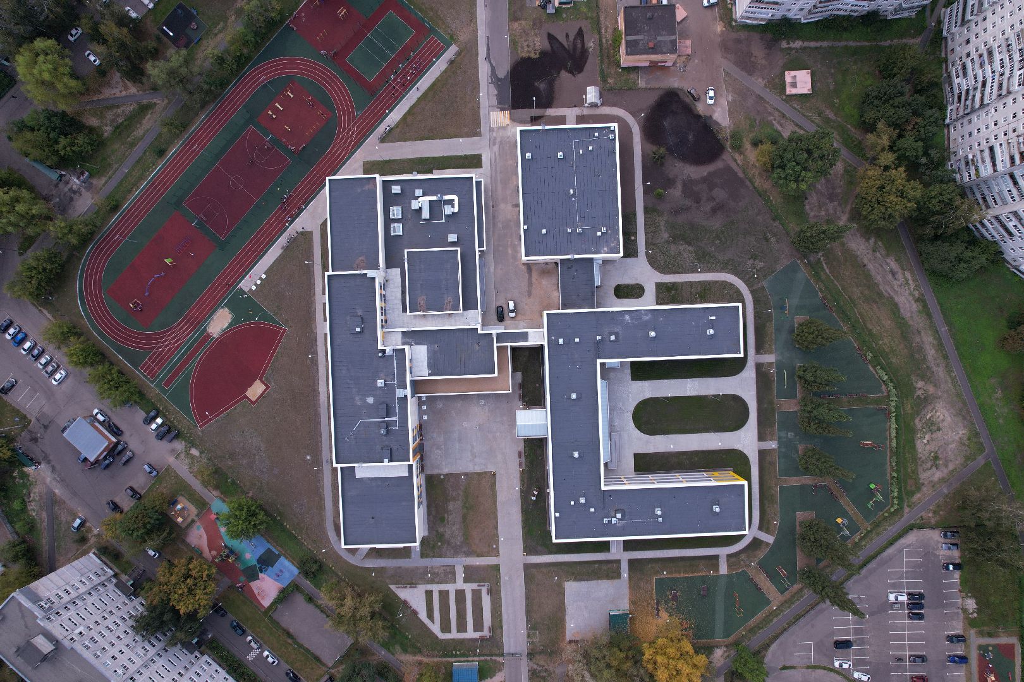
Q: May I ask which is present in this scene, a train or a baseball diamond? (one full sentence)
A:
Of the two, only a baseball diamond appears.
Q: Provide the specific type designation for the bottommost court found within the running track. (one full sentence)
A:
Specifically, the bottommost court found within the running track is a basketball court.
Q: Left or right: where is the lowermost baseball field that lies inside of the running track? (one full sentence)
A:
The lowermost baseball field that lies inside of the running track is on the left side of the image.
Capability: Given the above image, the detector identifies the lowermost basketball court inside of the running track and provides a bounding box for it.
[183,125,291,239]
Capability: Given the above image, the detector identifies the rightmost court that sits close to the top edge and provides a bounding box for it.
[333,0,432,95]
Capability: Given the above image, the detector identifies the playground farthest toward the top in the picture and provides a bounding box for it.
[158,2,208,49]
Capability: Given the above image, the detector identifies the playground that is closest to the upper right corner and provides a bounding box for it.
[764,260,885,399]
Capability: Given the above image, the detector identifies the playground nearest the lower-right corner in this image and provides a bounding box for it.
[978,643,1016,682]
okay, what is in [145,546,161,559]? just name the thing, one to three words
vehicle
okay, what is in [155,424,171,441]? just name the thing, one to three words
car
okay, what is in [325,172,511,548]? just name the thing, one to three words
building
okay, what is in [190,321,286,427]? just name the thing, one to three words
baseball field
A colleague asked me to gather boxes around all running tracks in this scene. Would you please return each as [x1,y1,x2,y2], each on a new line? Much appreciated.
[77,0,453,429]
